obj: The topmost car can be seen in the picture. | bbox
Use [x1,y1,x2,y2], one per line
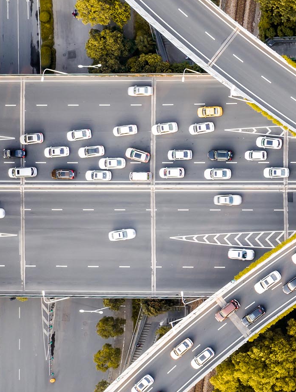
[127,84,154,97]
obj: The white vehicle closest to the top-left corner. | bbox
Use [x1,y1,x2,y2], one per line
[19,132,47,145]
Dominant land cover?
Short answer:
paved ground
